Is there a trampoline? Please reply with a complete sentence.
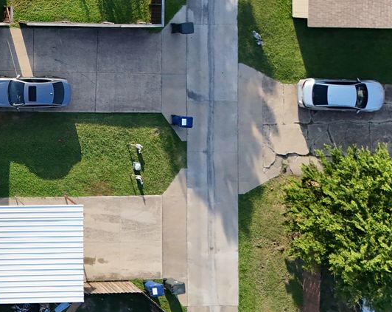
No, no trampoline is visible in the view.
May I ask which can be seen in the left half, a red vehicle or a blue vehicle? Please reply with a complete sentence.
The one visible in the left half is a blue vehicle.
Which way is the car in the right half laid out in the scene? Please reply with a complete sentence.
In this picture, the car in the right half lies from side to side.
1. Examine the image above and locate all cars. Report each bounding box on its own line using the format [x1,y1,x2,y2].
[297,75,386,114]
[0,74,70,113]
